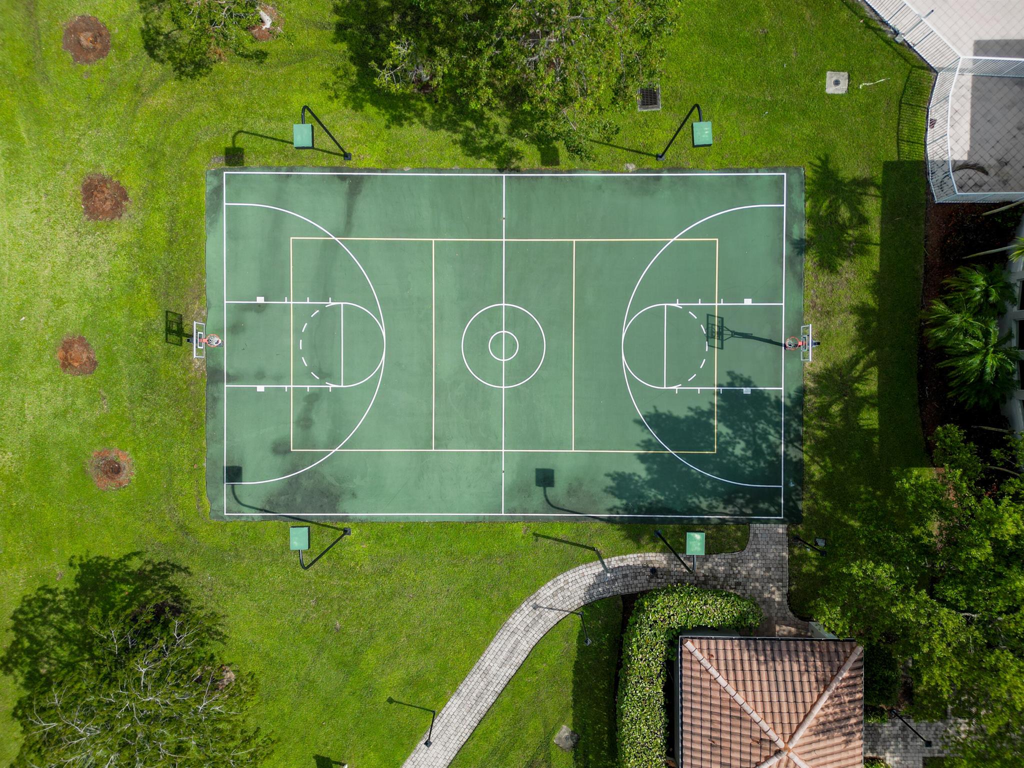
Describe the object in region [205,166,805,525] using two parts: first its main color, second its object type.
green basketball court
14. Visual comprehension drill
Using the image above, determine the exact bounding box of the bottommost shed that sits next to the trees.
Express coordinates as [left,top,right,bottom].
[675,625,865,768]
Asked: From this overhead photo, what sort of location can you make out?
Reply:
sports ground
